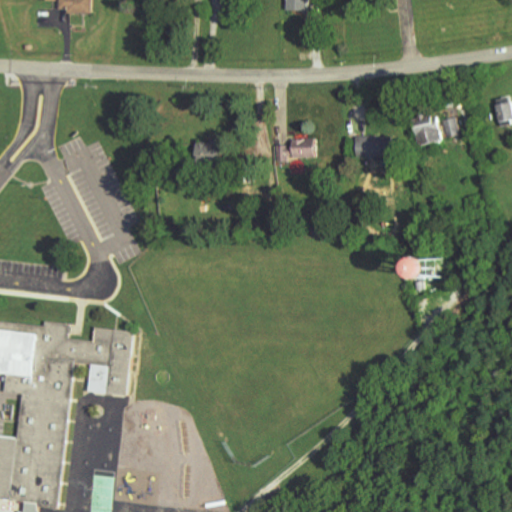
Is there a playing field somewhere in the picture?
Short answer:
Yes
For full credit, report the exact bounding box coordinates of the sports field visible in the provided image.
[130,242,406,495]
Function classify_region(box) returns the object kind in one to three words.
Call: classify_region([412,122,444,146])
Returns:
house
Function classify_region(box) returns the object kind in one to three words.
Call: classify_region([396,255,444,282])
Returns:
water tower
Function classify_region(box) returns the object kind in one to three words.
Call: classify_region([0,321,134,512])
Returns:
building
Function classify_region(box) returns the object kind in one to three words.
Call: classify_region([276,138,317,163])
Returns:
house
